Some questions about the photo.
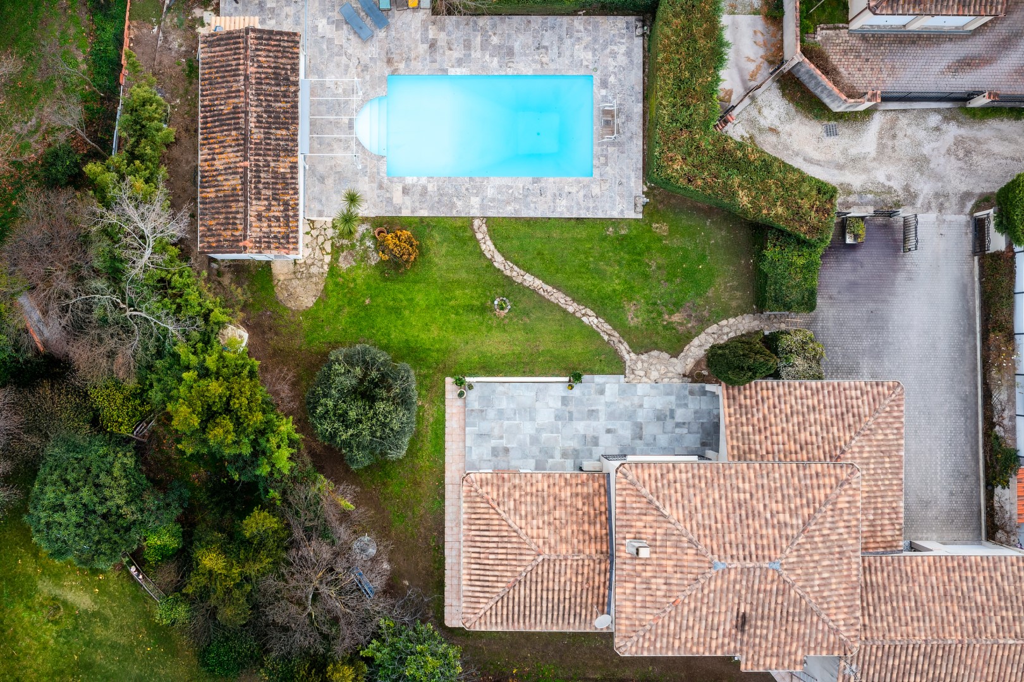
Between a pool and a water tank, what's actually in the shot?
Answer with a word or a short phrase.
pool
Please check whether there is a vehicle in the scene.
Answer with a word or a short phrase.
No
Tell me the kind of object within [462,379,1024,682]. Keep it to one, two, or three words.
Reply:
house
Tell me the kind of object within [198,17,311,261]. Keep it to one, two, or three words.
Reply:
building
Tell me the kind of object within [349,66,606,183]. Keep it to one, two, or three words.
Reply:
swimming pool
